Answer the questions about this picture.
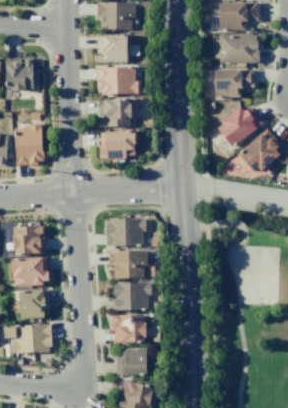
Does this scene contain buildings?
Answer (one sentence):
Yes, a building is visible in the scene.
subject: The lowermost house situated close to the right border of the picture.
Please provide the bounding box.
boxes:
[240,132,282,170]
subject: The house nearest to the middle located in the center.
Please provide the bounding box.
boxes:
[106,218,148,246]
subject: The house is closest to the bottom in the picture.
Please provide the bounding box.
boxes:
[122,382,154,408]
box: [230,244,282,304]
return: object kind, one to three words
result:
sports court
